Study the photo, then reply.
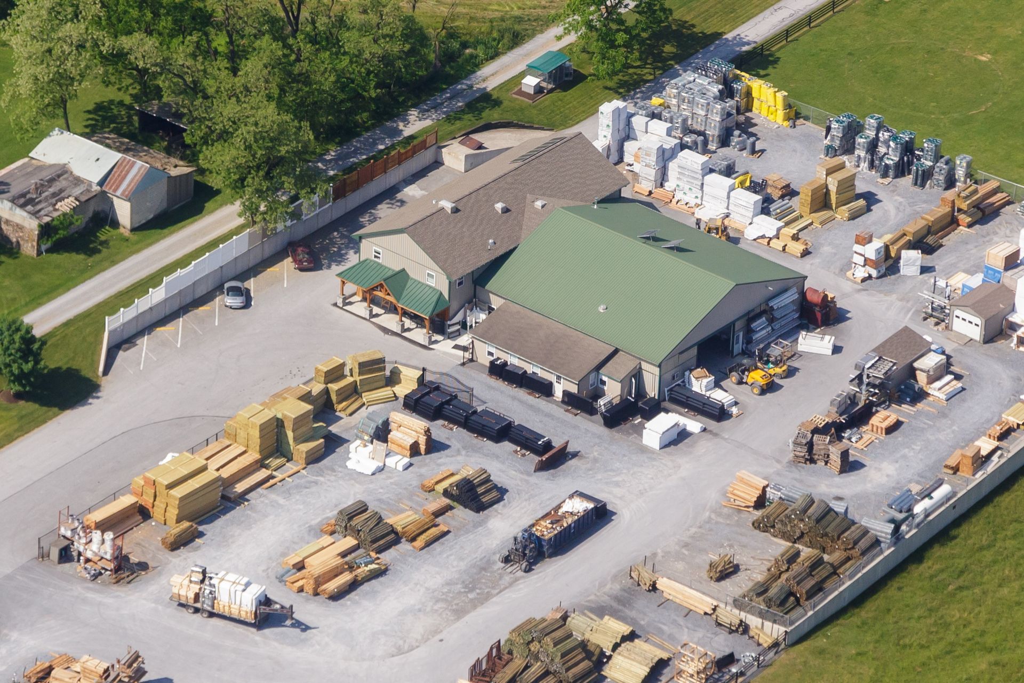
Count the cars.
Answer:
2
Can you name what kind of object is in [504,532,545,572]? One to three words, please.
work vehicle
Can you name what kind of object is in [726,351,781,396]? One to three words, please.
work vehicle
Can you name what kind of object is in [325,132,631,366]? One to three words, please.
barn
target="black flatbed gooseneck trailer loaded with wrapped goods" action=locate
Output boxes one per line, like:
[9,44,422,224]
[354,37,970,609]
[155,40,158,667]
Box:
[170,594,297,629]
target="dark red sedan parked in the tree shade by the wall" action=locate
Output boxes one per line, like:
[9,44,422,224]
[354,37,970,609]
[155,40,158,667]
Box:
[287,241,315,272]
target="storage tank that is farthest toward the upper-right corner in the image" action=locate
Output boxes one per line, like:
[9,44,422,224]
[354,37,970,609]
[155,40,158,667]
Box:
[814,279,844,327]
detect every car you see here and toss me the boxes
[223,281,246,309]
[287,241,315,272]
